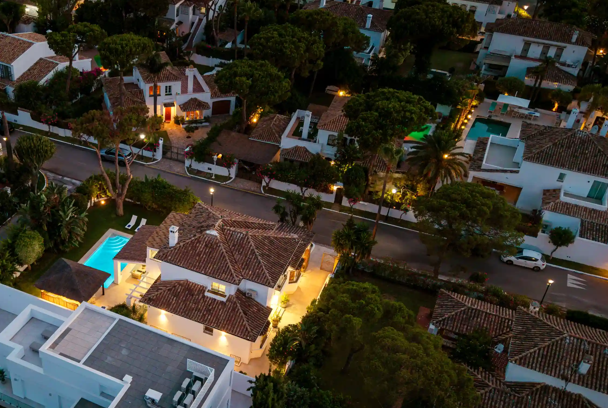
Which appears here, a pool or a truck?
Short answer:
pool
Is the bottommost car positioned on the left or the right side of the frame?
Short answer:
right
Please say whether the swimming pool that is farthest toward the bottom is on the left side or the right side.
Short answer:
left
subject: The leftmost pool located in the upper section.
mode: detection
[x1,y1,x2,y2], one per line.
[399,123,437,146]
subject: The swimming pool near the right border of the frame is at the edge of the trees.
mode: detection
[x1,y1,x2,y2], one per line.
[460,98,600,142]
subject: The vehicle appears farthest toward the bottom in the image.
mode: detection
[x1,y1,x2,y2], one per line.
[498,252,546,277]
